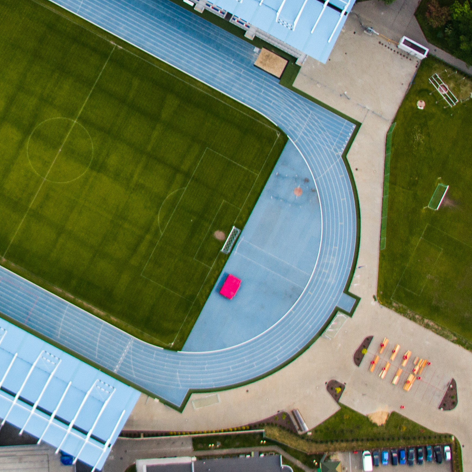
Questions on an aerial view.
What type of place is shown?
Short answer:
sports ground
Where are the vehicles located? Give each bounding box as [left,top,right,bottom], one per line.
[372,452,380,467]
[417,448,425,465]
[434,447,442,464]
[390,450,398,466]
[398,450,406,465]
[381,451,388,466]
[408,449,416,466]
[444,446,451,462]
[363,450,373,472]
[425,446,434,462]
